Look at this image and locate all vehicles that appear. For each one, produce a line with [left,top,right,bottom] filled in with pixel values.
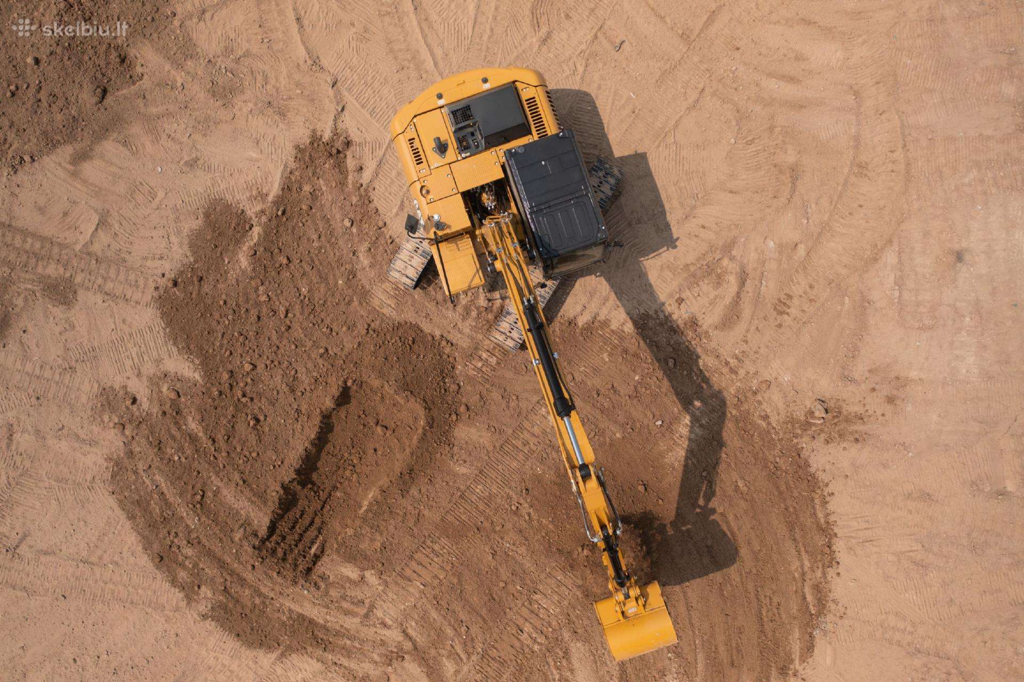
[385,62,681,662]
